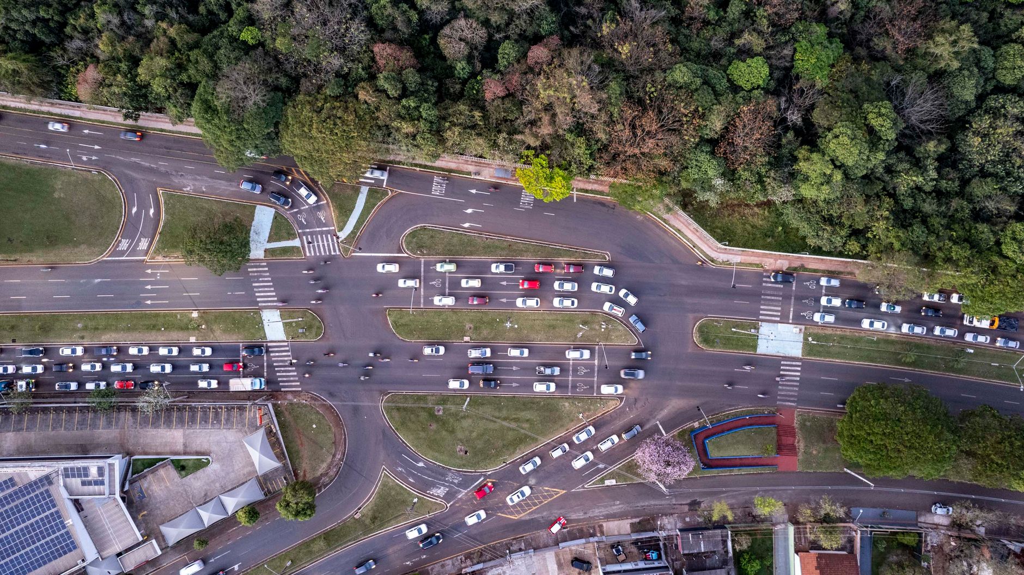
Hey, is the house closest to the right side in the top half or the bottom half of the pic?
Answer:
bottom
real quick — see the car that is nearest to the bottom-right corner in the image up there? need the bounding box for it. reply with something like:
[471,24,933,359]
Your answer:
[931,500,953,514]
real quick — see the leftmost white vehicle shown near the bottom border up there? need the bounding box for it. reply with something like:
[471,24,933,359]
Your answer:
[179,555,207,575]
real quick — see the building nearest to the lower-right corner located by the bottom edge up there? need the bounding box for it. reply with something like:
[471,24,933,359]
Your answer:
[788,546,859,575]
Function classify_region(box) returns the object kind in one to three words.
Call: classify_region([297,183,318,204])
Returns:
truck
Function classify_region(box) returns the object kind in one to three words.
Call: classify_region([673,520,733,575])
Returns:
house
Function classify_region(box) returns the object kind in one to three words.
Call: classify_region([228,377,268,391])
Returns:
vehicle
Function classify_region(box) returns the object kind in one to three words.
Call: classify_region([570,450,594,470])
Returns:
car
